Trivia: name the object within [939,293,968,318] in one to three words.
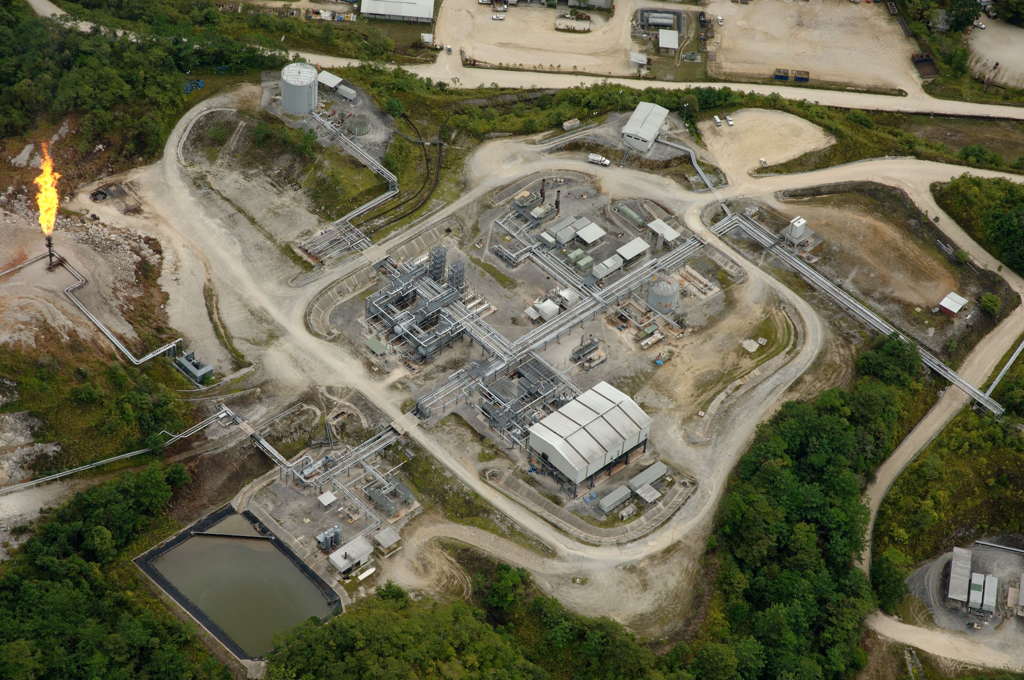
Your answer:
shed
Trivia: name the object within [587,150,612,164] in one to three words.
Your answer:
vehicle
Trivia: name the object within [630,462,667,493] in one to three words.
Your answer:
building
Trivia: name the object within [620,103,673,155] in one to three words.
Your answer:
building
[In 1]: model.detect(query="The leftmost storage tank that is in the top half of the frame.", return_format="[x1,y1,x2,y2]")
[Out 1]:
[279,60,319,117]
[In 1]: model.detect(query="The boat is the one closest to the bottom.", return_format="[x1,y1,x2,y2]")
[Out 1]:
[357,568,375,582]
